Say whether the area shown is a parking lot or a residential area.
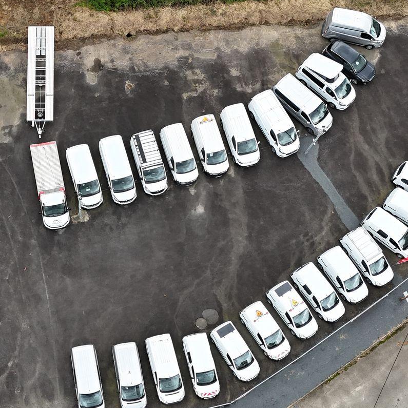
parking lot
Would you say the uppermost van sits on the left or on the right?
right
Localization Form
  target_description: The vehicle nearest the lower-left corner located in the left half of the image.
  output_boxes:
[70,347,108,408]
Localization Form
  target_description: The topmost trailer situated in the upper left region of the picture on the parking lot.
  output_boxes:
[26,26,54,138]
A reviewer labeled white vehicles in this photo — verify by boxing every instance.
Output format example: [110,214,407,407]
[290,52,354,113]
[65,144,104,212]
[180,334,222,399]
[391,163,408,194]
[217,105,261,168]
[359,209,408,263]
[157,124,199,187]
[143,334,186,406]
[236,301,291,363]
[110,341,150,408]
[380,189,408,229]
[29,141,72,230]
[338,228,394,288]
[207,320,261,383]
[188,115,231,179]
[313,247,369,307]
[70,347,108,408]
[128,129,169,197]
[288,265,344,325]
[246,94,299,159]
[98,138,138,205]
[263,281,319,343]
